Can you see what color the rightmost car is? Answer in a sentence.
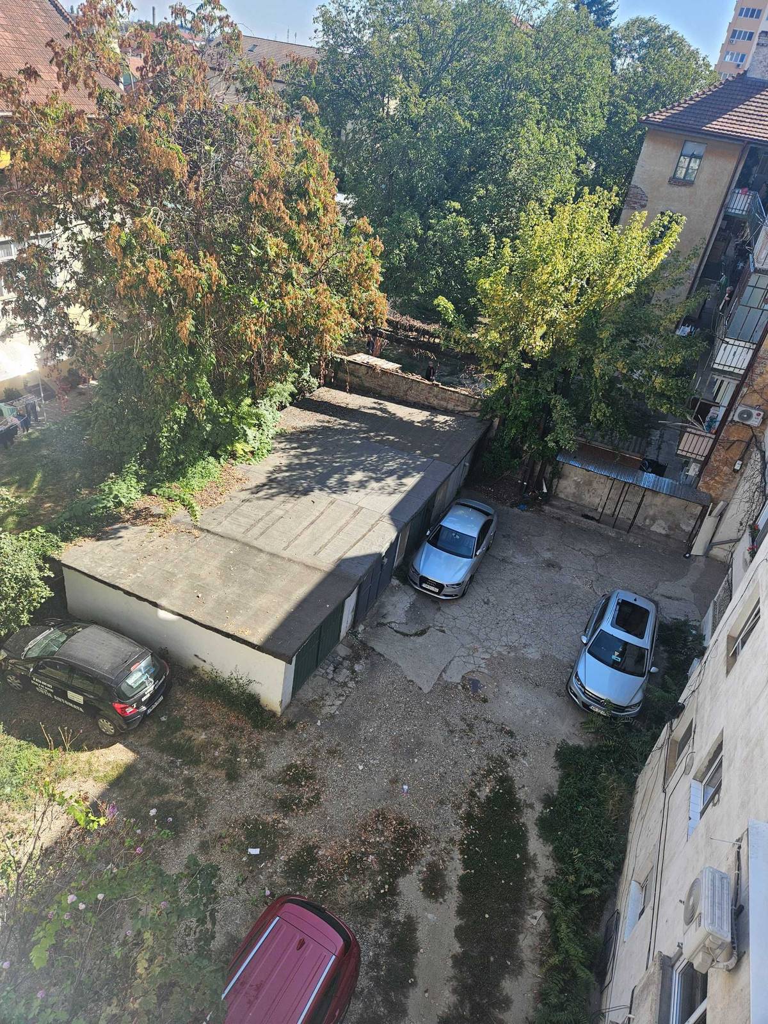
In this view, the rightmost car is blue.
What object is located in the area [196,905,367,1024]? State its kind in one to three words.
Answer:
car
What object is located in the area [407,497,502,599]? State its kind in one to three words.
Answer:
car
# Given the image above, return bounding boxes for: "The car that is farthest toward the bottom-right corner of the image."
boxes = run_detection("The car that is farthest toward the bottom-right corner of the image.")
[561,582,656,717]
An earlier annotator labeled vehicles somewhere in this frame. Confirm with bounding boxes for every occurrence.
[561,582,656,717]
[0,617,178,737]
[407,497,502,599]
[196,905,367,1024]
